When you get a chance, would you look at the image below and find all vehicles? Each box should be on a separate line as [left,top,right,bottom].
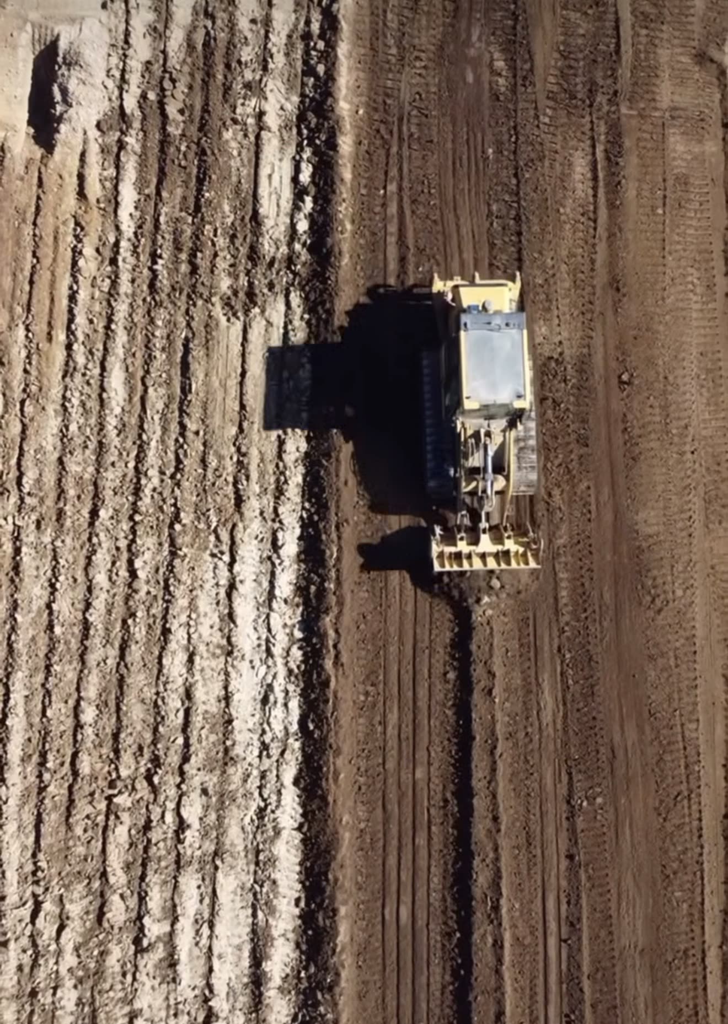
[419,272,542,573]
